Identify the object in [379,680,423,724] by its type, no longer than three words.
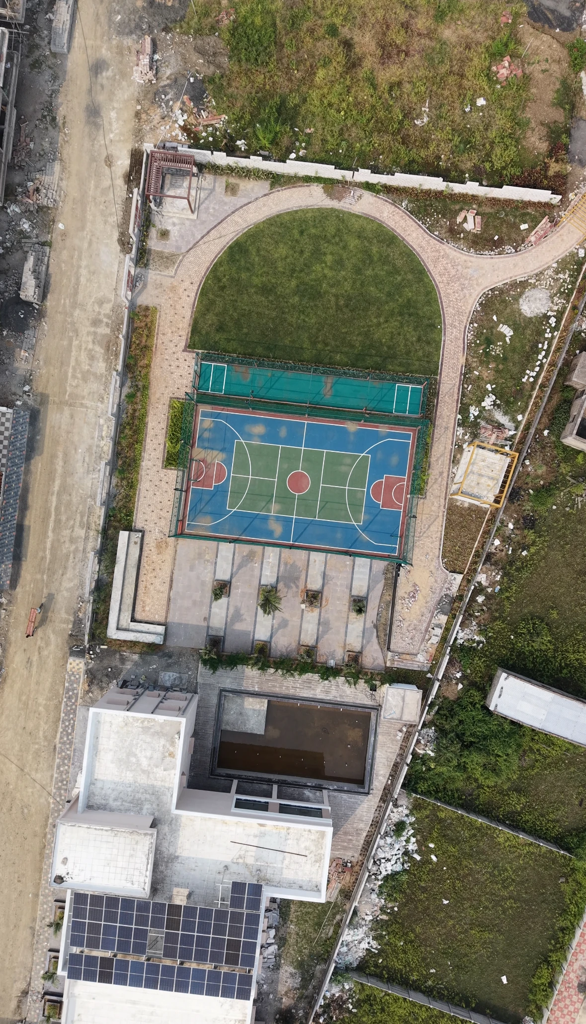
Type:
building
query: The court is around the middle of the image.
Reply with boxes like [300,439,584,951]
[182,405,419,559]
